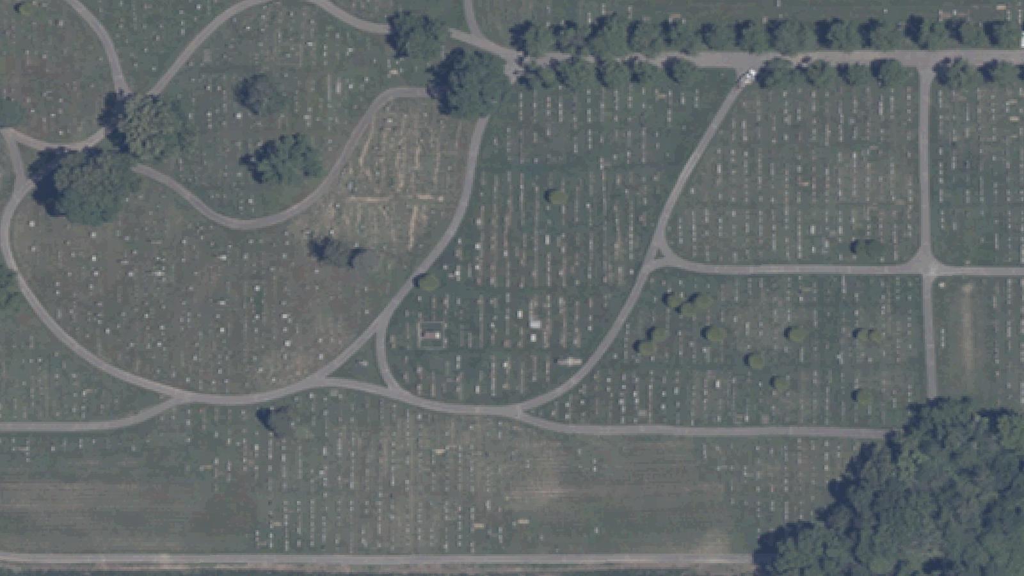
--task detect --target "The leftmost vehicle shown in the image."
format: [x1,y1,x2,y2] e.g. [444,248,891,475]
[743,67,757,85]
